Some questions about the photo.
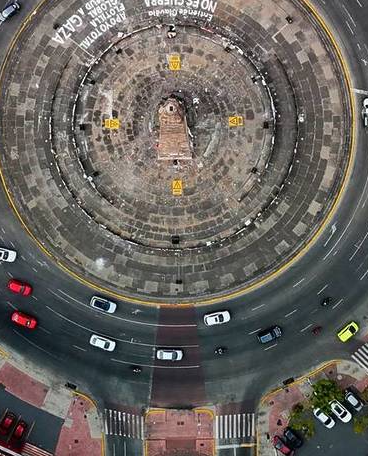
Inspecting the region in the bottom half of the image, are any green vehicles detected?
Yes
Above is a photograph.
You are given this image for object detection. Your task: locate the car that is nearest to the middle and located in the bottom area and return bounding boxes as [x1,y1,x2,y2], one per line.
[203,311,231,326]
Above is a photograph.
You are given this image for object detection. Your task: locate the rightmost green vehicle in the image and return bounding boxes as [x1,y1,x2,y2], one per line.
[337,323,360,343]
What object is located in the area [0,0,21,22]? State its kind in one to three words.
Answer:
car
